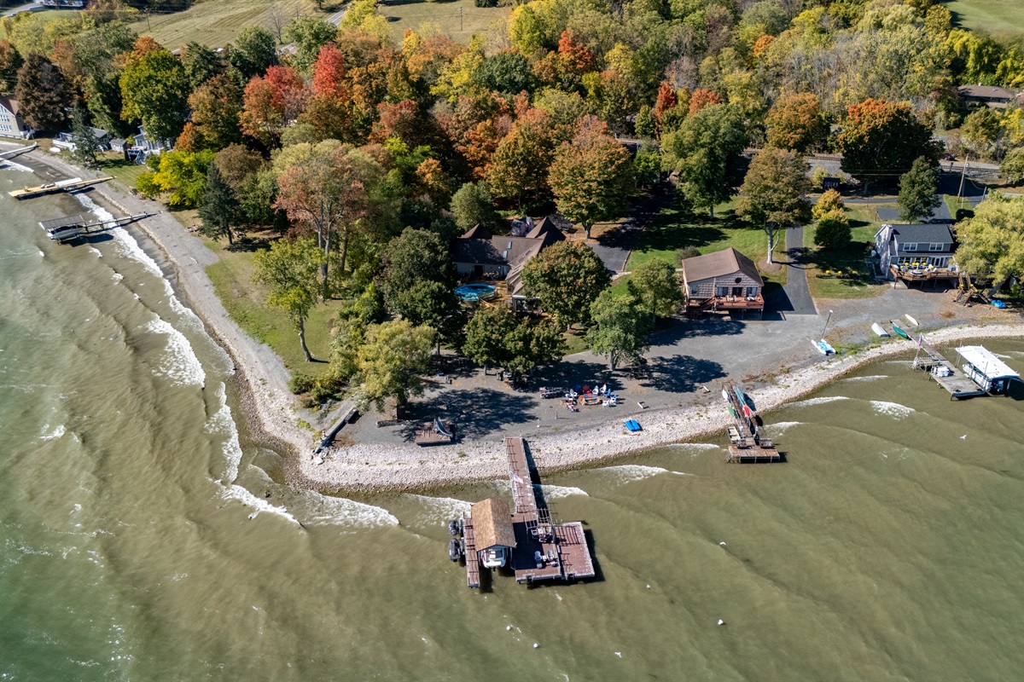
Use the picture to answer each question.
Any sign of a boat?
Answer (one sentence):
Yes, the frame does contain a boat.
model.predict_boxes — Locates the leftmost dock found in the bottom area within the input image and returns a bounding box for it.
[463,431,595,594]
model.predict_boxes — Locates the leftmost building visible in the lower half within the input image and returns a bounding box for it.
[471,499,517,576]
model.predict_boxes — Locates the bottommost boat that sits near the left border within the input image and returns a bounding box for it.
[45,224,86,237]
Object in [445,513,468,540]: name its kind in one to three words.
boat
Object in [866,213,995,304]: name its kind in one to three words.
house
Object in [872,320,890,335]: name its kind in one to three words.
boat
